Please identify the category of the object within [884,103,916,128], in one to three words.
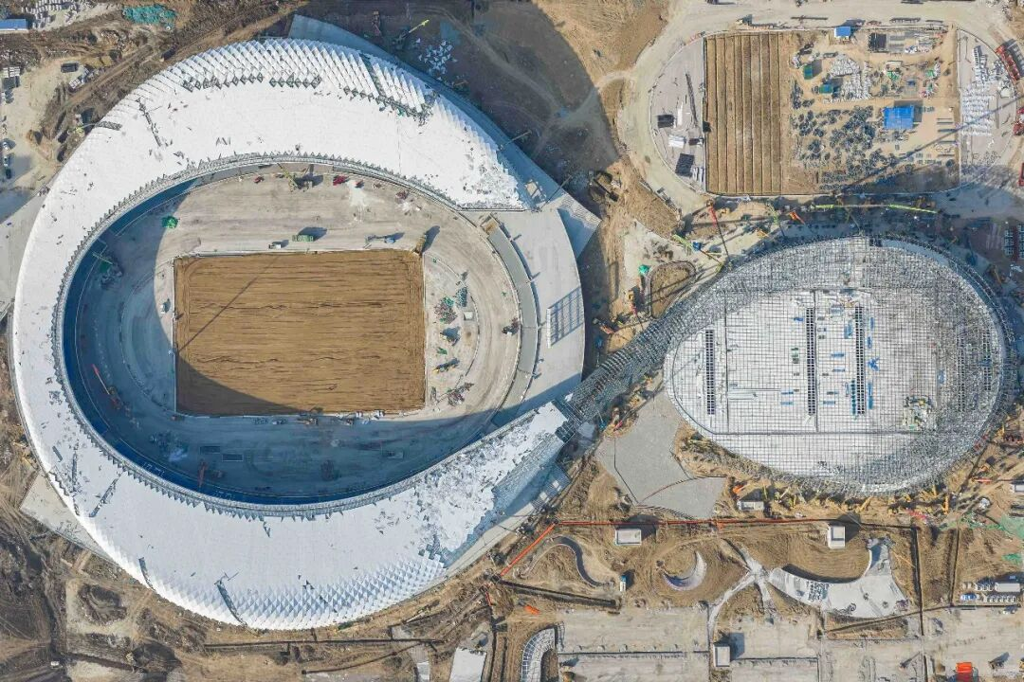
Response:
shed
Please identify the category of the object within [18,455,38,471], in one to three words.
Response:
work vehicle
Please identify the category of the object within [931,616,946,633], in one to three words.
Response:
work vehicle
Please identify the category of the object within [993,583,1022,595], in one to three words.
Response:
building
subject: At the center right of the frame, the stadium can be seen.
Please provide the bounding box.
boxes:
[662,235,1018,496]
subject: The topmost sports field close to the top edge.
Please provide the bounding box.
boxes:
[649,27,1017,196]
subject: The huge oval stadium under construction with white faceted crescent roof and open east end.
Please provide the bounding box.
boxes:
[9,15,599,631]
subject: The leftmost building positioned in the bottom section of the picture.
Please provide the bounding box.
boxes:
[615,528,642,547]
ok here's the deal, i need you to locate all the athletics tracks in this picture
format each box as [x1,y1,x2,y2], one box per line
[79,170,520,494]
